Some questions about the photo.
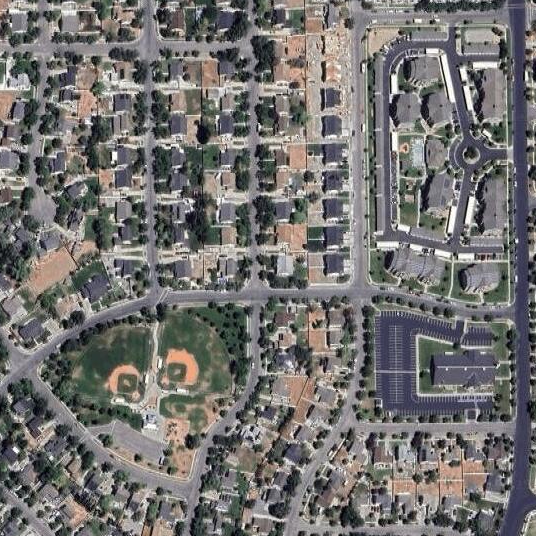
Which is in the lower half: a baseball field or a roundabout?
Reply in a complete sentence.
You can see a baseball field in the lower half.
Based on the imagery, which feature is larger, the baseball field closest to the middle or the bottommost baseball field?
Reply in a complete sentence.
Compared with the bottommost baseball field, the baseball field closest to the middle is the larger one.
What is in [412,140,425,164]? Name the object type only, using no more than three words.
swimming pool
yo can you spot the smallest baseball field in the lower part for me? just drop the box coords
[161,393,204,420]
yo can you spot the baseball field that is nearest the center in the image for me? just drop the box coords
[160,317,229,390]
